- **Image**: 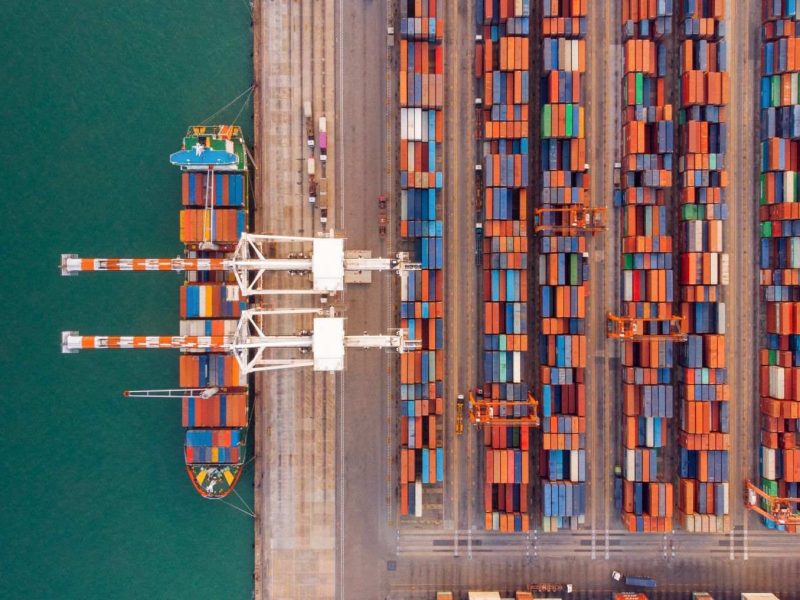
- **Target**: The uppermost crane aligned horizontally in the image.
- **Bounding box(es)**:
[530,206,613,241]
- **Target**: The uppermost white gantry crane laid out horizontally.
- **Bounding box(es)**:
[62,227,421,305]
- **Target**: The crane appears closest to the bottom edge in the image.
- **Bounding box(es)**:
[745,478,800,524]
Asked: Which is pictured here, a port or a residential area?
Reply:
port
